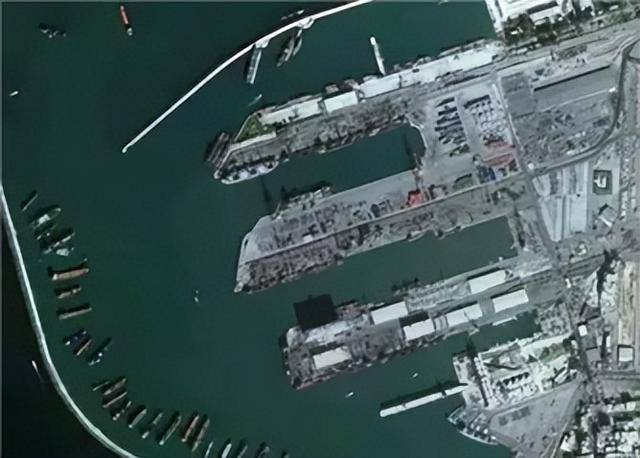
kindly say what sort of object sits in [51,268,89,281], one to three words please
ship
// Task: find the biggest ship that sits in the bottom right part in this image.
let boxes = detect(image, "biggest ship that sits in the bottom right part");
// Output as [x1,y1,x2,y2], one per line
[449,412,501,445]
